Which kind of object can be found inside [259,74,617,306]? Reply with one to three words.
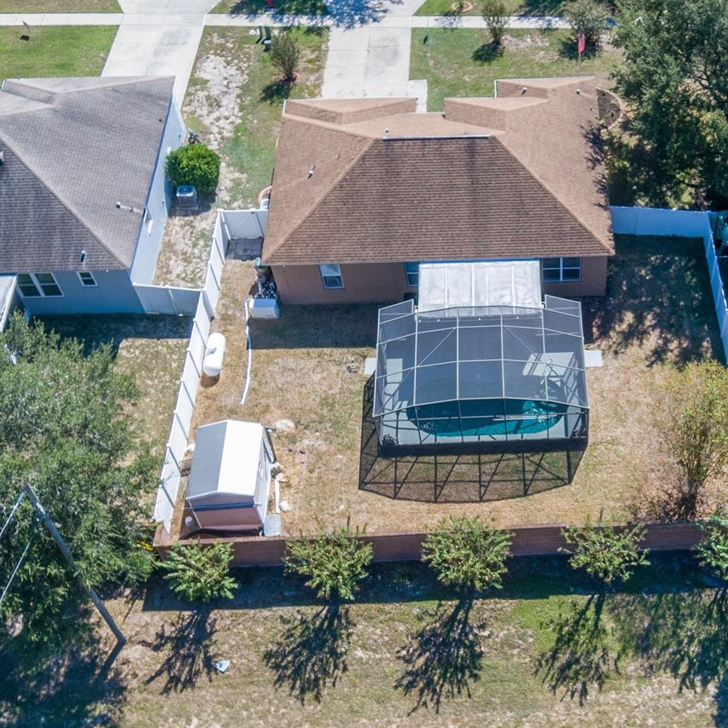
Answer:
house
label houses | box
[0,70,186,317]
[259,74,617,306]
